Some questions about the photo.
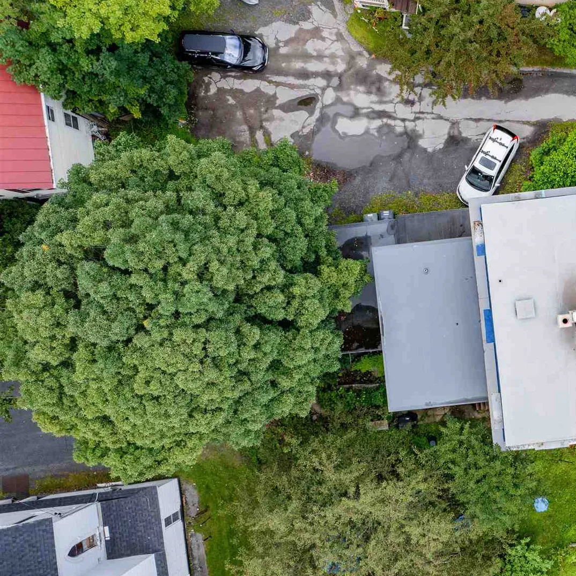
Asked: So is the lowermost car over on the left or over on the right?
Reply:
right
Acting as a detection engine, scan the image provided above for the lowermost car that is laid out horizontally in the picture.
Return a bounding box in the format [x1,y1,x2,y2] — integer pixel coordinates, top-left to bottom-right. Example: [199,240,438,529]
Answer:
[173,26,267,74]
